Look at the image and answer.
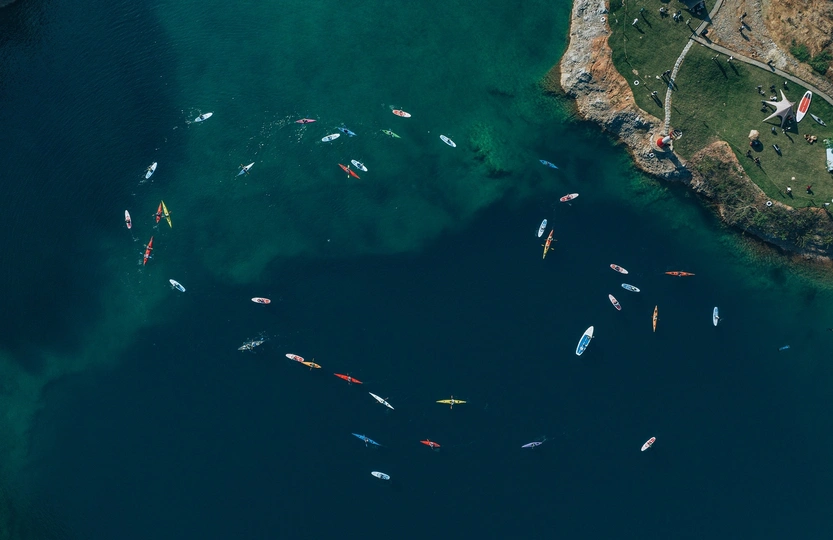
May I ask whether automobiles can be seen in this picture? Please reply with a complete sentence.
No, the photo shows no automobile.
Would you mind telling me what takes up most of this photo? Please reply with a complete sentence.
The bulk of the photo consists of water.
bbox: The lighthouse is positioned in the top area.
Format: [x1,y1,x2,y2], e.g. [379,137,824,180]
[651,128,682,153]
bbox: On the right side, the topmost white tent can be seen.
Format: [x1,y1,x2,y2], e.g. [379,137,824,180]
[763,89,796,128]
